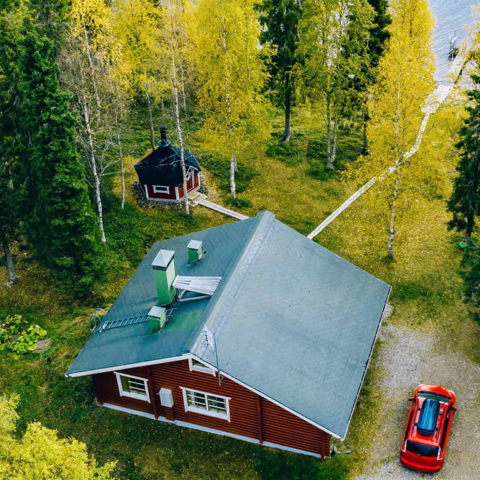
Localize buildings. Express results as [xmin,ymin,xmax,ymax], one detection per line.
[64,212,392,462]
[135,125,203,203]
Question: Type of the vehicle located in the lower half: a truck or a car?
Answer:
car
